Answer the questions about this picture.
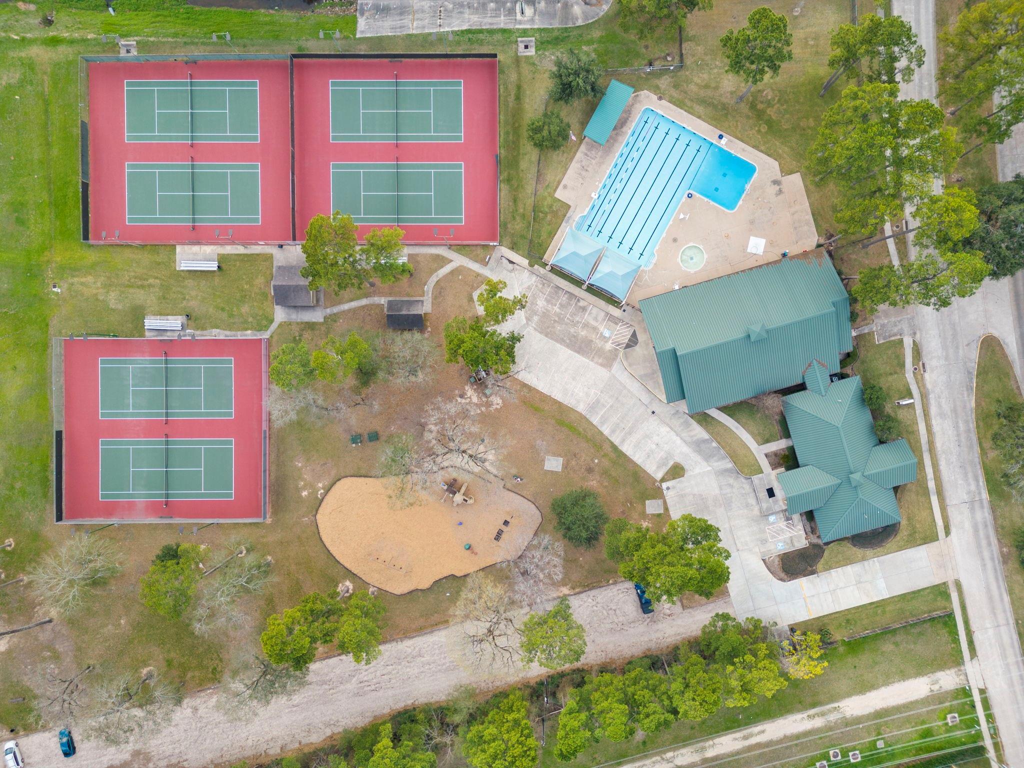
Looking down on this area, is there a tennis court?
Yes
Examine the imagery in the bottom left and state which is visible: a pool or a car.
car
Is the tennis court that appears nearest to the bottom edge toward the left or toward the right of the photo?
left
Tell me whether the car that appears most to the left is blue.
No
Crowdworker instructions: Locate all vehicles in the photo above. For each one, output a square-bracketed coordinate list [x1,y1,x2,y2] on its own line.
[4,739,24,768]
[56,730,73,760]
[636,582,655,616]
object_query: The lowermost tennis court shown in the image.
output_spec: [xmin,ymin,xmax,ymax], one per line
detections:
[65,428,268,519]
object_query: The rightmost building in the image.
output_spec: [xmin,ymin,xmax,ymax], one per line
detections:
[772,354,918,543]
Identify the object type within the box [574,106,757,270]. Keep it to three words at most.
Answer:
swimming pool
